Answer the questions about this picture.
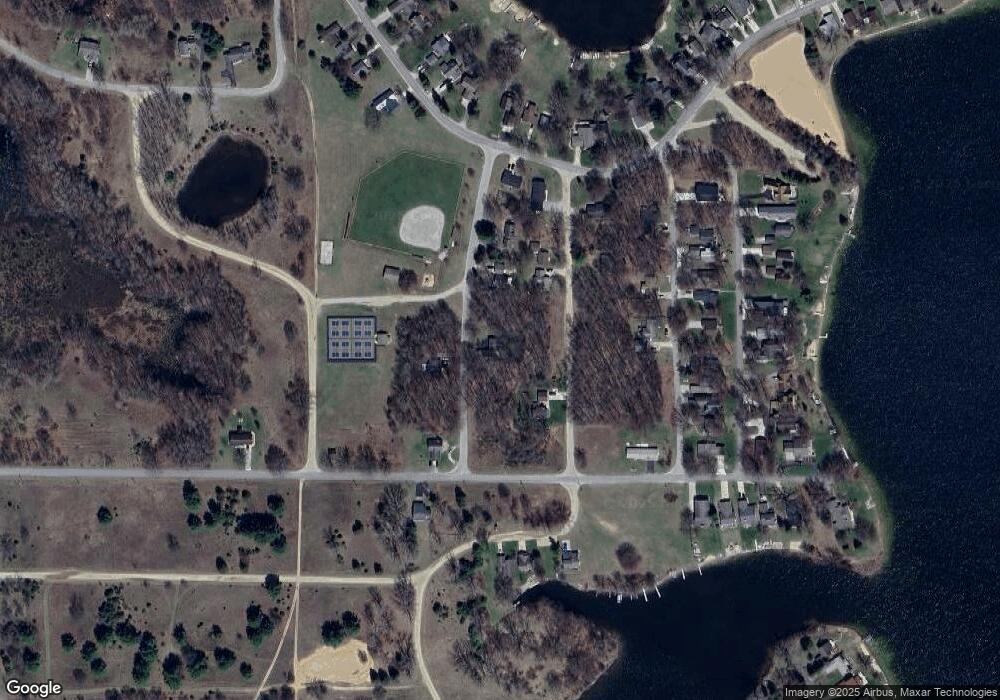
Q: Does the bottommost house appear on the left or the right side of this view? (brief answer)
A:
right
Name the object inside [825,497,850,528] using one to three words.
house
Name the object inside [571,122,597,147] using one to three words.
house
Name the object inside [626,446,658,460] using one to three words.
shed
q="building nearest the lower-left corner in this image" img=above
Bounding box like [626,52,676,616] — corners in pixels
[229,432,252,445]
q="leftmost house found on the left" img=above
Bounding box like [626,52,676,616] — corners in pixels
[78,41,99,62]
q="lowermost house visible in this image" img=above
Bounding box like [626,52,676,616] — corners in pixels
[836,671,862,694]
